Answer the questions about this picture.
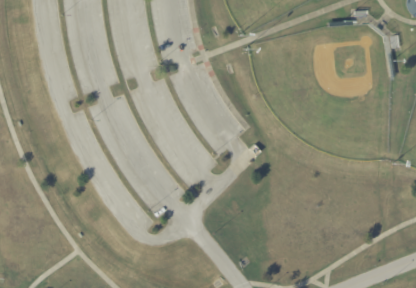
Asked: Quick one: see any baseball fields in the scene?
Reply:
Yes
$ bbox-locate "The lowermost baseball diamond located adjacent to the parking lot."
[250,26,394,161]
